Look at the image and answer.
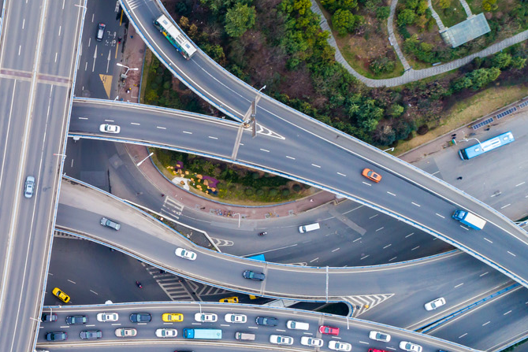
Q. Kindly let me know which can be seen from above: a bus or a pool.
bus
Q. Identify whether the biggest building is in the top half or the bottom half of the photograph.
top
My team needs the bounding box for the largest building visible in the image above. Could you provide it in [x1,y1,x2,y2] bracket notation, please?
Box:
[436,12,491,44]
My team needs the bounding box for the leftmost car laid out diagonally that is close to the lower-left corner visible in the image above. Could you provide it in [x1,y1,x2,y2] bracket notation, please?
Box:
[51,287,70,303]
